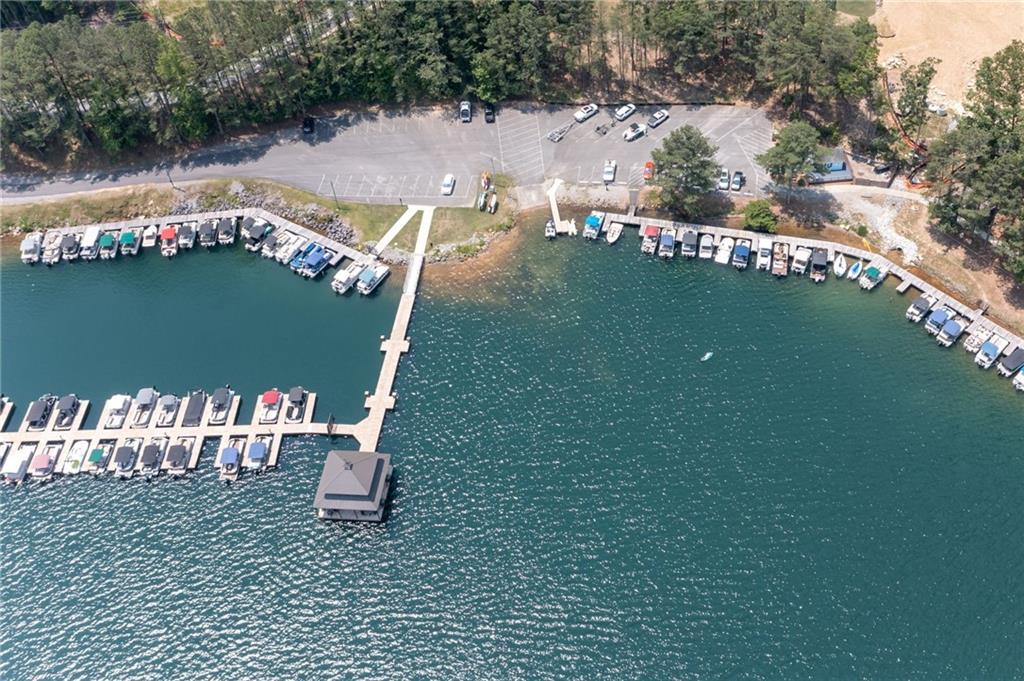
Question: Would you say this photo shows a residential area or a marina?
marina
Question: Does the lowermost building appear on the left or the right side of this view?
left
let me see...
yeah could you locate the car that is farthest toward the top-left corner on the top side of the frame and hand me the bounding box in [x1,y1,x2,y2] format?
[302,113,314,134]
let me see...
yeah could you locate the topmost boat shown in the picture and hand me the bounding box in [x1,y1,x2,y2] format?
[622,118,648,139]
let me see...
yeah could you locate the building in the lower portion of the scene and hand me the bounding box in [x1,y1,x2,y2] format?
[314,449,390,521]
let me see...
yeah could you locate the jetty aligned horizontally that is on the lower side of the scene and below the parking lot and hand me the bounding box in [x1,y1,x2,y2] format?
[0,393,316,473]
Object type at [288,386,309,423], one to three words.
boat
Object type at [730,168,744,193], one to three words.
vehicle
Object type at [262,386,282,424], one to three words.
boat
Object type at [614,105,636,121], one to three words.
car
